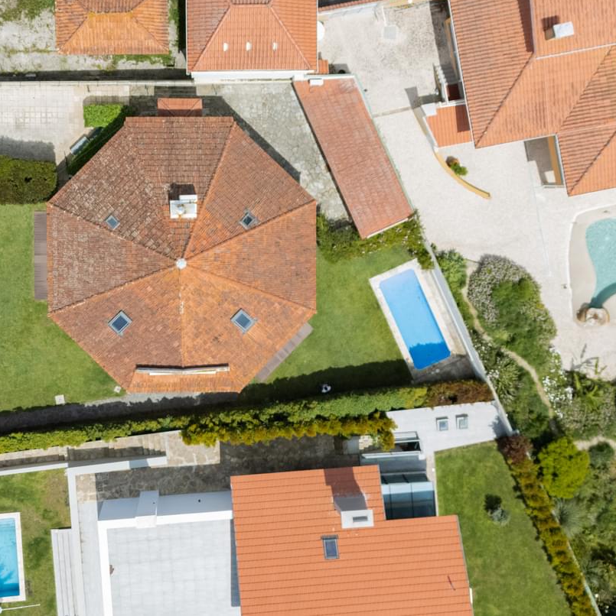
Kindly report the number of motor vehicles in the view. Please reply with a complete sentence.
The photo contains no motor vehicles.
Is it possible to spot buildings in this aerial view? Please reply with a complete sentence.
Yes, the picture does show a building.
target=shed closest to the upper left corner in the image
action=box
[55,0,170,55]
